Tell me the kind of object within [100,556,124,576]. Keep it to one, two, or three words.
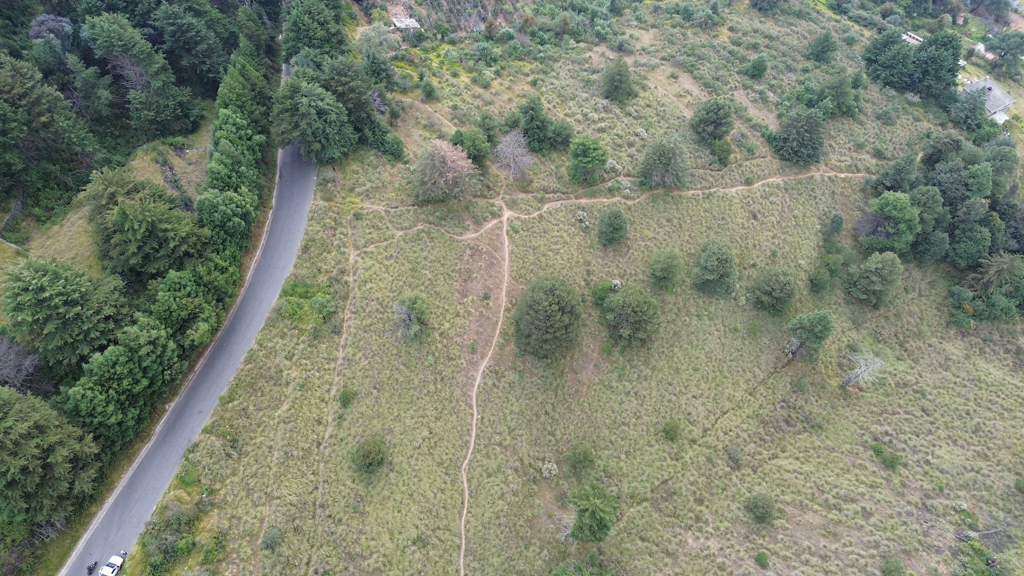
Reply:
vehicle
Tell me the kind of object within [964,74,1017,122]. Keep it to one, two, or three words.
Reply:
house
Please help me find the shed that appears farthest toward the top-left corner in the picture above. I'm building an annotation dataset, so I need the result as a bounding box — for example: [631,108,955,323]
[394,18,422,36]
